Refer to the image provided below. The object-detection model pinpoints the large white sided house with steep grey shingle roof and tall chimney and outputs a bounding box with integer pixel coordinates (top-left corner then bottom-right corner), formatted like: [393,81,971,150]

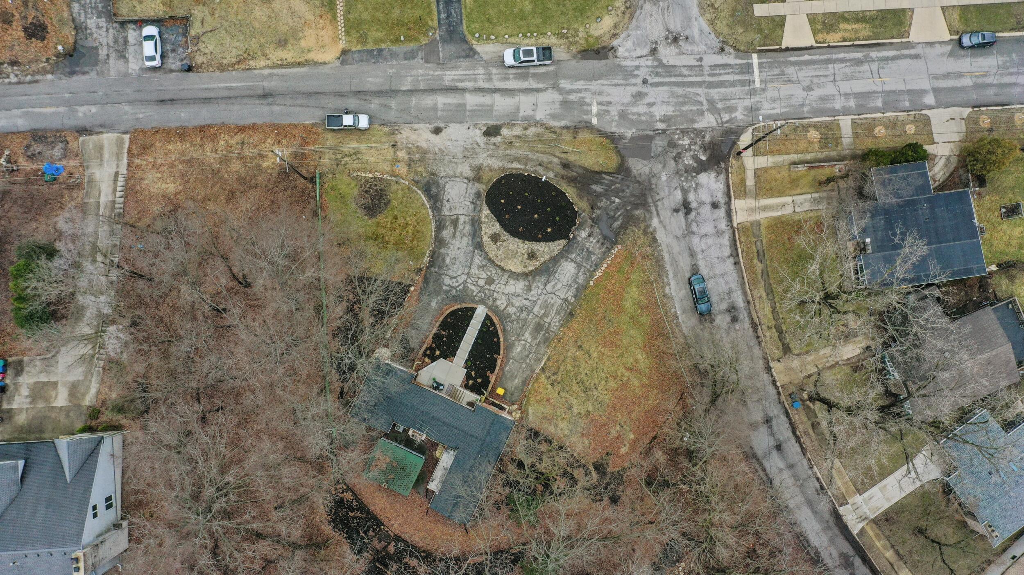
[0,435,129,575]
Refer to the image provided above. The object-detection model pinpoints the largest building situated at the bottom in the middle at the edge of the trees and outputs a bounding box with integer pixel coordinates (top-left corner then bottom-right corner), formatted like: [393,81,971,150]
[349,360,515,525]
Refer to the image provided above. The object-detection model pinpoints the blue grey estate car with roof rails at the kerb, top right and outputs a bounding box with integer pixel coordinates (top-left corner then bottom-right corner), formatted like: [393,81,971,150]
[957,29,999,50]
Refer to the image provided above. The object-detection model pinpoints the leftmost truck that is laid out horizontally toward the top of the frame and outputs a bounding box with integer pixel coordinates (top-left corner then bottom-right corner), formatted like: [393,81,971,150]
[324,110,371,131]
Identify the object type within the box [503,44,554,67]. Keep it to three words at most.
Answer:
truck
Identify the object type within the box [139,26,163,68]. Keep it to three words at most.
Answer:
car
